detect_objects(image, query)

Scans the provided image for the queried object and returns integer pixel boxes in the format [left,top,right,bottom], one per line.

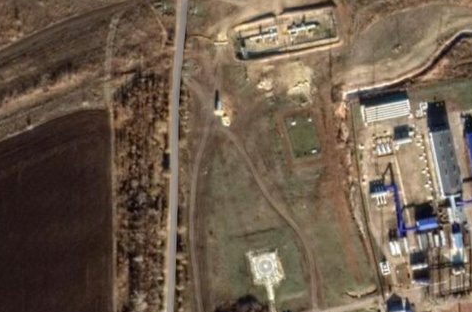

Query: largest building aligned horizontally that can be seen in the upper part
[365,101,410,120]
